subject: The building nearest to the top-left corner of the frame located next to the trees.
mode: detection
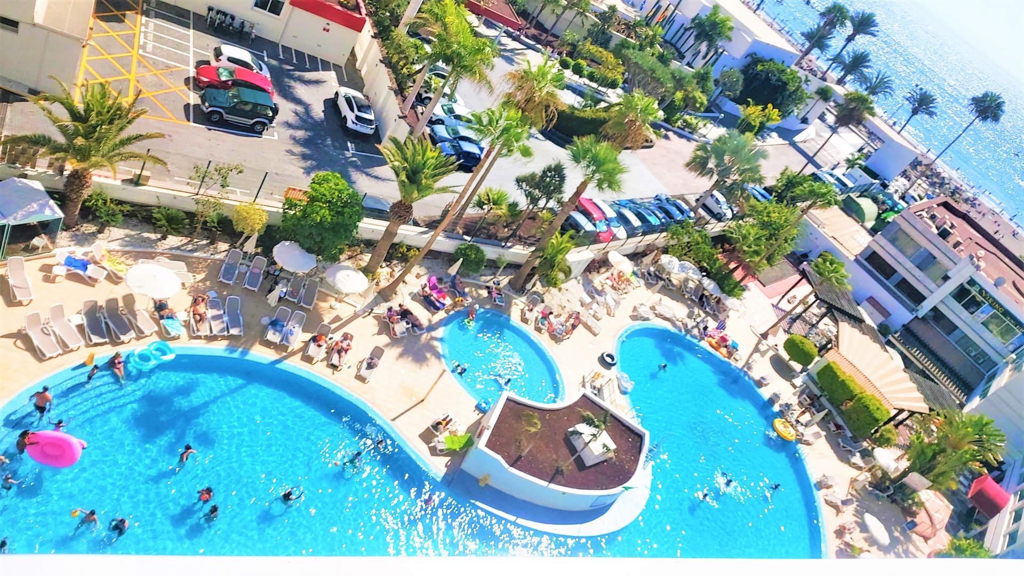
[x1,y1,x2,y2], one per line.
[0,0,102,99]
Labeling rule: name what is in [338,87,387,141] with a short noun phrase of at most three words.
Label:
car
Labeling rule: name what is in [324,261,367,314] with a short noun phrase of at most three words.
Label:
umbrella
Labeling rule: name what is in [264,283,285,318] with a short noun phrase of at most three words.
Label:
umbrella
